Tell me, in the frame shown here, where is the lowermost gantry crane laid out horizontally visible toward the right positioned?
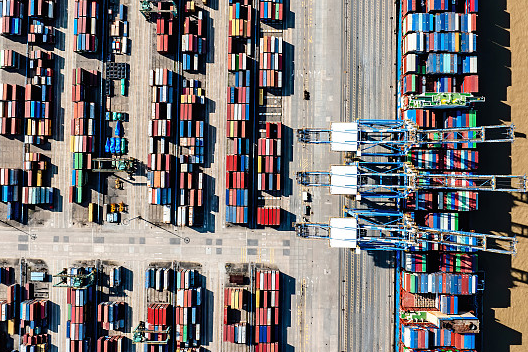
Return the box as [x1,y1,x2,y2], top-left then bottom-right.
[294,205,512,256]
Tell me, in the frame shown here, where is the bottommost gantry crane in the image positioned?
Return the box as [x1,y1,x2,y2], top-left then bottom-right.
[130,321,173,346]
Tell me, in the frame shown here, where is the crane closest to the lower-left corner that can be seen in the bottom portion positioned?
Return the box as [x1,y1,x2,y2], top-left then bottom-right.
[52,267,97,289]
